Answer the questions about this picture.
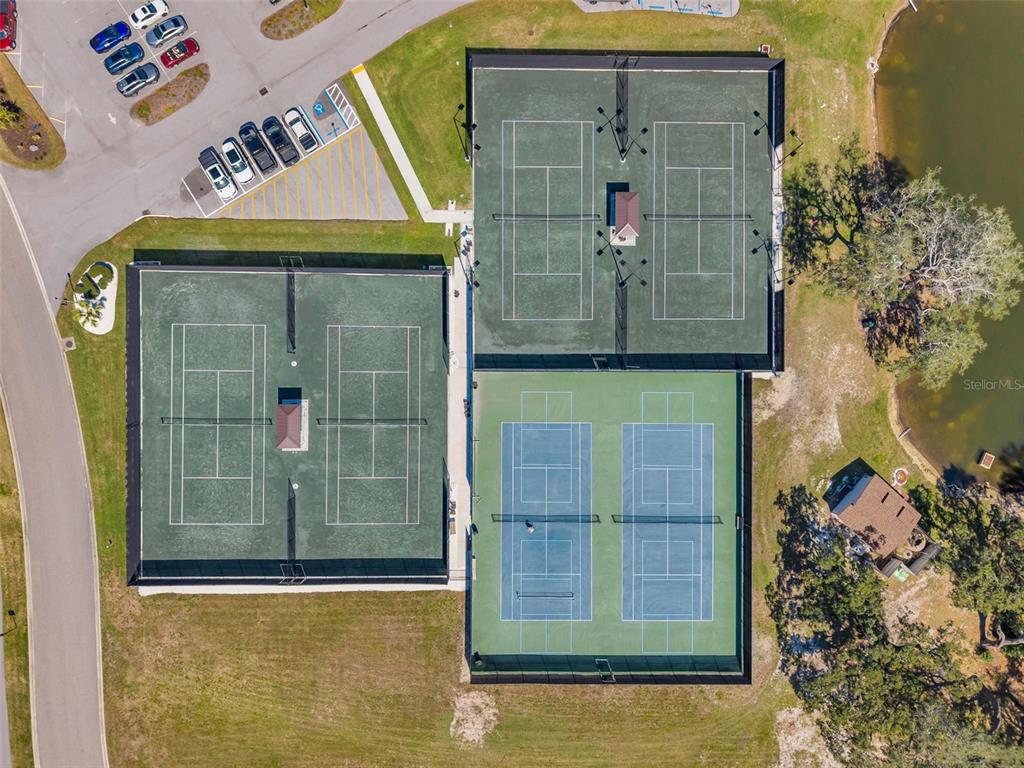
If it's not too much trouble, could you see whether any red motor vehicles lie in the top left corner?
Yes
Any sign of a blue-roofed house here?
No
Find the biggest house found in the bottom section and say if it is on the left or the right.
right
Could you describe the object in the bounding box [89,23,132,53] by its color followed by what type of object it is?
blue car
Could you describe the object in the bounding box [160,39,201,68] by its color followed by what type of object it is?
red car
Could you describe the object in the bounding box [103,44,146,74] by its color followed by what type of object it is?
blue car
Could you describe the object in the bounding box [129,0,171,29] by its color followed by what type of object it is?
white car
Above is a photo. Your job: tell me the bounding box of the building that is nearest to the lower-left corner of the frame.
[277,399,308,451]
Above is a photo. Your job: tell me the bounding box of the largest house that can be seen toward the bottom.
[833,474,921,557]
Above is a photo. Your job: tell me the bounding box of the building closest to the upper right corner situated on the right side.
[610,192,640,246]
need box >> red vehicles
[160,39,201,68]
[0,0,18,49]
